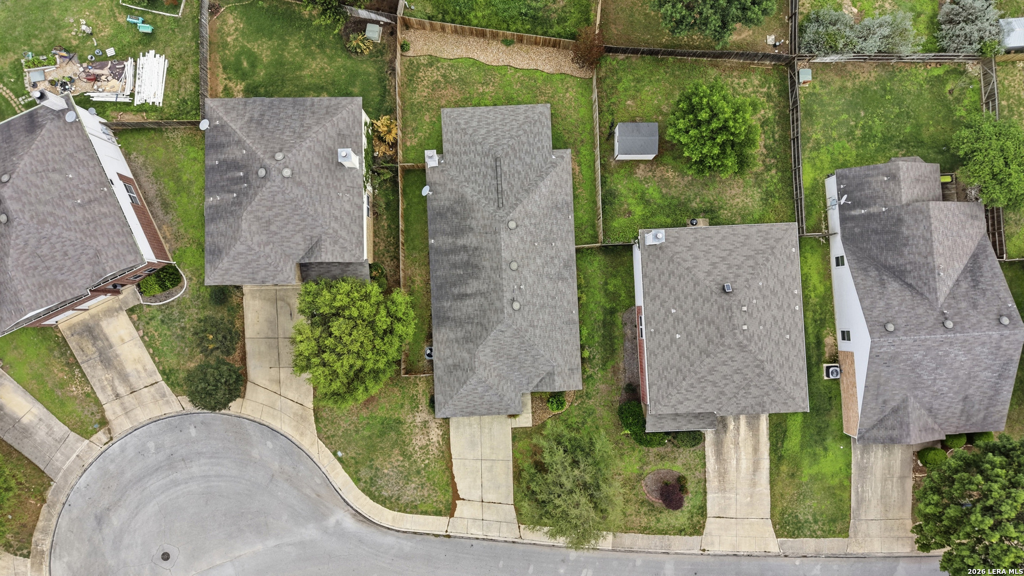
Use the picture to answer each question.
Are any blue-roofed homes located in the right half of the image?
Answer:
No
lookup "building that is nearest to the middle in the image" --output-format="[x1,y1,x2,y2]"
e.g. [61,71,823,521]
[424,103,582,419]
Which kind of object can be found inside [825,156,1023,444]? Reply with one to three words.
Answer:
house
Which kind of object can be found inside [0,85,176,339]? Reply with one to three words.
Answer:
house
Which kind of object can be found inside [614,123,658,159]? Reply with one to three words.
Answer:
shed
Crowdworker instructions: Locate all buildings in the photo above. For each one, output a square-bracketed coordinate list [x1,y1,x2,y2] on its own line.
[0,85,176,339]
[825,156,1023,444]
[1000,11,1024,47]
[632,222,809,433]
[424,103,582,419]
[203,96,374,286]
[614,123,658,159]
